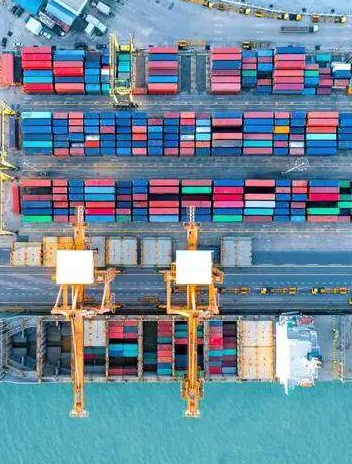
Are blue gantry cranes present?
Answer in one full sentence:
No, the photo shows no blue gantry crane.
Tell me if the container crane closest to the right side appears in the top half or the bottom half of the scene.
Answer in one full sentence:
It is in the bottom half that the container crane closest to the right side appears.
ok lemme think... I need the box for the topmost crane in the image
[110,32,140,107]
